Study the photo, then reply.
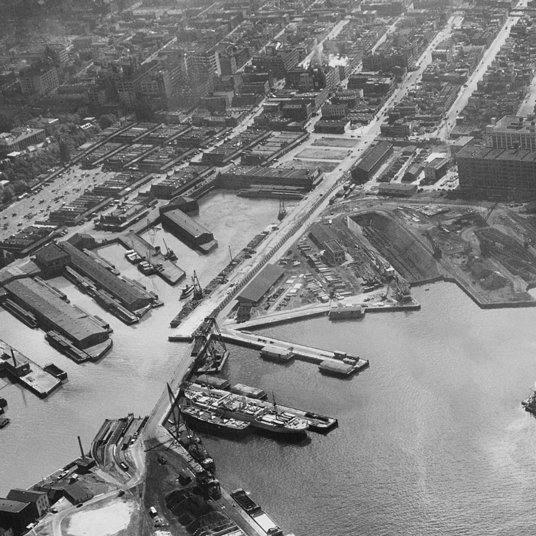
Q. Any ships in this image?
Yes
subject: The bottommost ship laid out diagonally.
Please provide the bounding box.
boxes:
[251,511,282,535]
